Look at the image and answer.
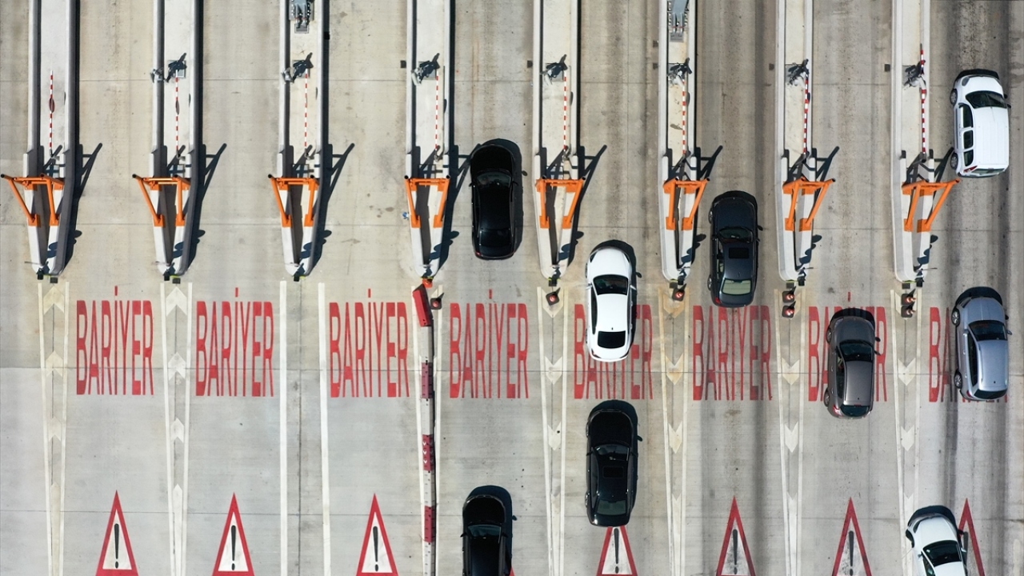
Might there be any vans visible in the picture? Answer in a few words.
Yes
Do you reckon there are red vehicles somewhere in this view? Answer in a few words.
No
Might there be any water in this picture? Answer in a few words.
No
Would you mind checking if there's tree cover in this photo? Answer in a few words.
No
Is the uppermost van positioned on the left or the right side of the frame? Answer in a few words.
right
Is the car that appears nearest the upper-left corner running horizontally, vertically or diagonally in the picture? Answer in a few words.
vertically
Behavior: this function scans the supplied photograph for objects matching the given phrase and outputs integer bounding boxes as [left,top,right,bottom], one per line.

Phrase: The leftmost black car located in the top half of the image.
[465,144,519,260]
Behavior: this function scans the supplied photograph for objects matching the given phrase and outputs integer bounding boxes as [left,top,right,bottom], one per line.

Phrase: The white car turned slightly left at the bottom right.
[906,509,972,576]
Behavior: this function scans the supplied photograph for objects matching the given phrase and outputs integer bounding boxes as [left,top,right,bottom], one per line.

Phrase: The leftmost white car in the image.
[583,245,638,363]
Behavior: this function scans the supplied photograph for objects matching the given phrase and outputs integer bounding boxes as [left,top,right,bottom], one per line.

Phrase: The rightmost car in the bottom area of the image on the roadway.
[949,295,1011,401]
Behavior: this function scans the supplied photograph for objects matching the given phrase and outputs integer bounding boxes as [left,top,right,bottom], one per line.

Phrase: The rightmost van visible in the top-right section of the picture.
[948,77,1010,178]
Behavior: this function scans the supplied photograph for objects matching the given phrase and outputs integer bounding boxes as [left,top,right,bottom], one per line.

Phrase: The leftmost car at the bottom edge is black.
[458,494,513,576]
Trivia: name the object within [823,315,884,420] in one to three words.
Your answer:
car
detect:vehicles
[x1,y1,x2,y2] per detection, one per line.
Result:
[948,77,1010,178]
[949,295,1011,401]
[906,509,972,576]
[458,494,513,576]
[823,315,884,420]
[583,245,638,363]
[465,144,519,260]
[708,196,763,307]
[583,410,638,529]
